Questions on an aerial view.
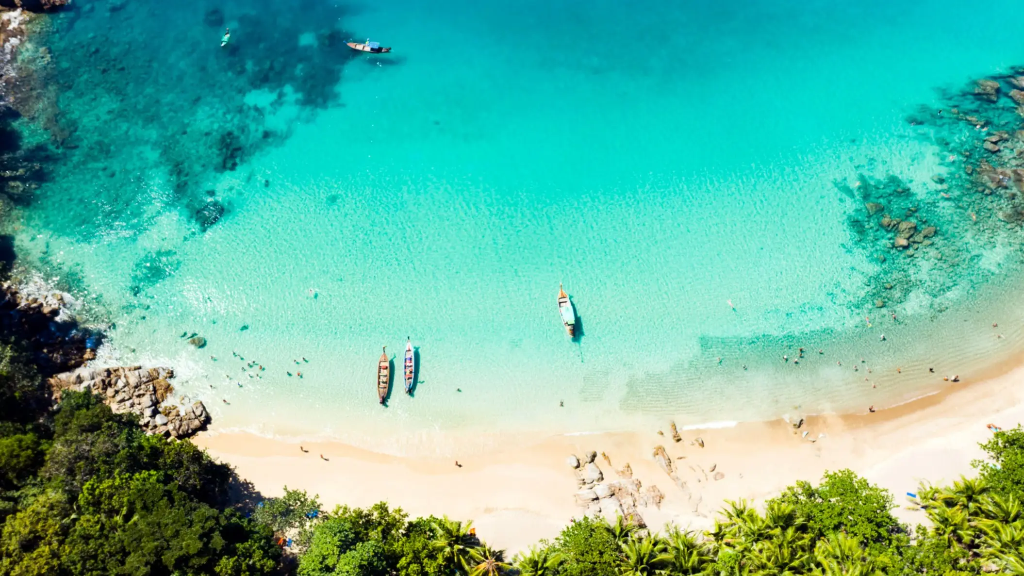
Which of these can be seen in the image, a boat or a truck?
boat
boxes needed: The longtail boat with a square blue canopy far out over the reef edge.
[347,40,394,56]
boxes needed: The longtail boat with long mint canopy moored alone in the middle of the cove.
[559,288,576,345]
